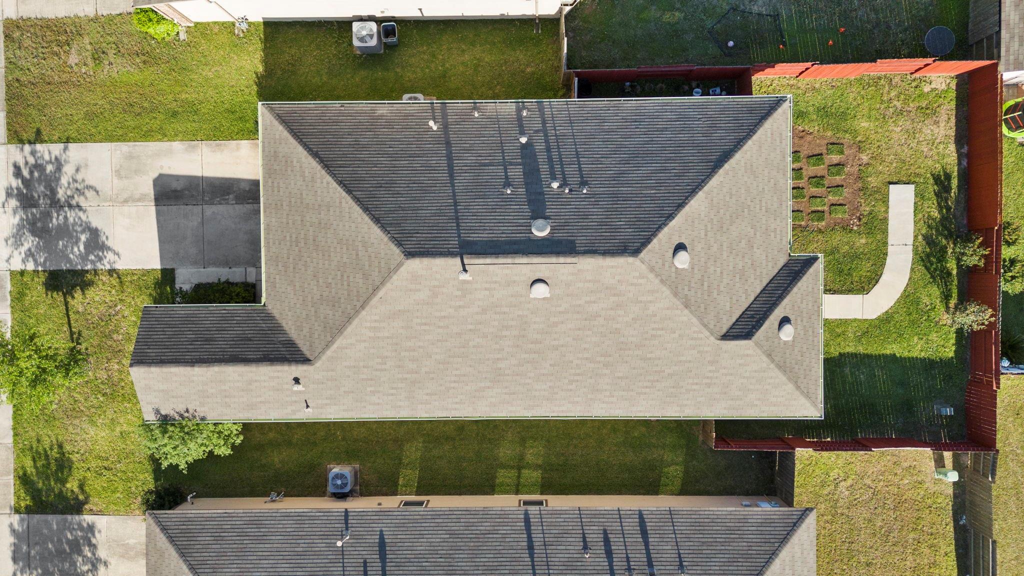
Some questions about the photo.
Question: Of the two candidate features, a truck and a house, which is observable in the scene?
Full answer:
Of the two, only a house appears.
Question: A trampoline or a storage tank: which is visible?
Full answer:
The image shows a trampoline.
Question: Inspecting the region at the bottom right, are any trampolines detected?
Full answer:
No, no trampoline appears at the bottom right.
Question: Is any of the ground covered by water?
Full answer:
No, the scene doesn't show any water.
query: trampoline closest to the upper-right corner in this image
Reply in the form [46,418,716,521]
[922,26,955,57]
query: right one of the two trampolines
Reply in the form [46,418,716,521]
[1002,97,1024,141]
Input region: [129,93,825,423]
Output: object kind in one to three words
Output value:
house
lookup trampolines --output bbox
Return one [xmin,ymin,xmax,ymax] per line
[922,26,955,57]
[1002,97,1024,141]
